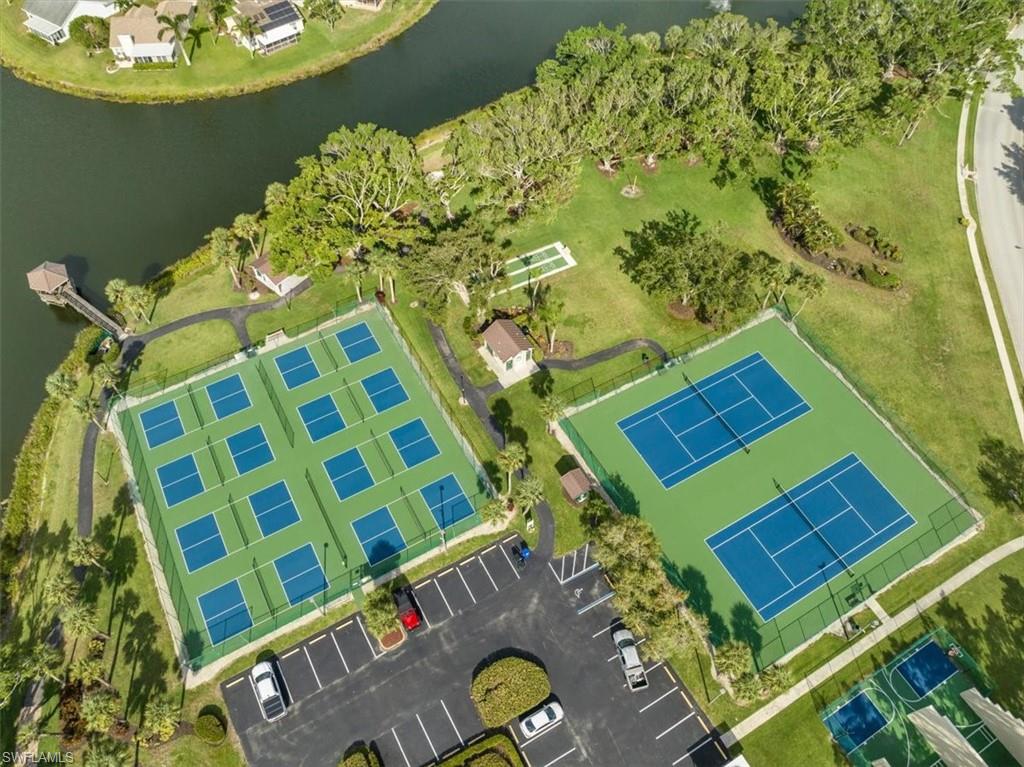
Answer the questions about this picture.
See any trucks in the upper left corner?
No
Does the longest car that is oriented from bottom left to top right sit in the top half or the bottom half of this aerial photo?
bottom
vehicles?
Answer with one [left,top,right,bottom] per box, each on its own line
[518,548,529,565]
[613,629,650,690]
[251,661,289,723]
[392,590,419,629]
[520,702,565,739]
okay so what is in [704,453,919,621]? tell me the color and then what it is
blue tennis court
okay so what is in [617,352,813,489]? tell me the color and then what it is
blue tennis court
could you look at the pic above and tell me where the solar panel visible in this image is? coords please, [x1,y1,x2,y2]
[252,0,300,35]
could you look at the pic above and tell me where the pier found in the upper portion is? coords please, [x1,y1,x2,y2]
[27,262,128,342]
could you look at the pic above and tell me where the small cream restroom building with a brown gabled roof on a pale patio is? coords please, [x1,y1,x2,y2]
[483,321,533,370]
